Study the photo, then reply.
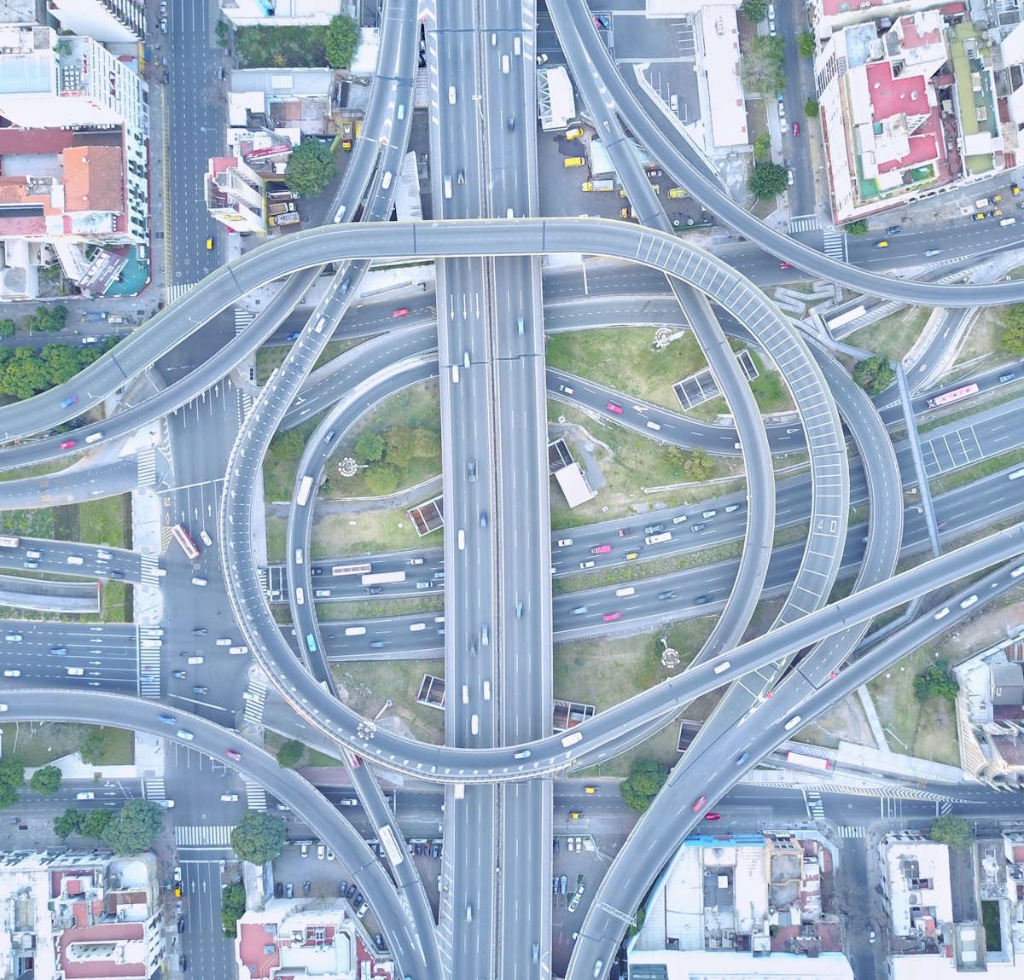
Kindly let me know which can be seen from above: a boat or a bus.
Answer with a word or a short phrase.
bus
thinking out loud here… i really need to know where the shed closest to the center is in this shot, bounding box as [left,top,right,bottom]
[555,463,597,507]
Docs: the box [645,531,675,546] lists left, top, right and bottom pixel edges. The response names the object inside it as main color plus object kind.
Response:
white vehicle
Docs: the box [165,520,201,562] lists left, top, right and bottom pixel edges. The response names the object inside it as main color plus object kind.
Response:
white bus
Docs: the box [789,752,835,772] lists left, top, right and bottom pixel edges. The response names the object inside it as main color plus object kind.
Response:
white bus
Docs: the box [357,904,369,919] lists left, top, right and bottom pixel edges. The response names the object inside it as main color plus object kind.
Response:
white vehicle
